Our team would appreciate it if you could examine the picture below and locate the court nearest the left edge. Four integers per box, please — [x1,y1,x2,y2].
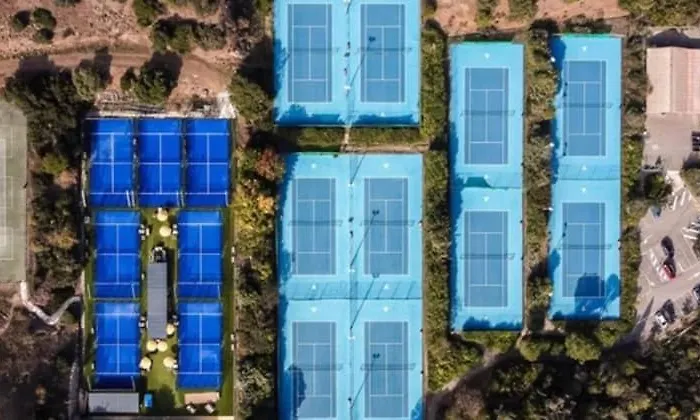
[0,103,27,283]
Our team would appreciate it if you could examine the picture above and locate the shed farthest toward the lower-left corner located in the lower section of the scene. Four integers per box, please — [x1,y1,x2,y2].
[88,390,143,412]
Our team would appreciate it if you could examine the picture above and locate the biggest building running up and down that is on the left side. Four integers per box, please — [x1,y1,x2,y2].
[147,263,170,339]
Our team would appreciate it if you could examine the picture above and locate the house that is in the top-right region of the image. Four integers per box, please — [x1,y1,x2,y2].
[643,46,700,116]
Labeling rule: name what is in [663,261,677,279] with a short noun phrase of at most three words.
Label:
car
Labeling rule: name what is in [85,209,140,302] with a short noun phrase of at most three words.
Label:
sports court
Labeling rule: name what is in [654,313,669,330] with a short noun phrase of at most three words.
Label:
car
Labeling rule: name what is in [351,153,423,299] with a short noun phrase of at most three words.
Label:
tennis court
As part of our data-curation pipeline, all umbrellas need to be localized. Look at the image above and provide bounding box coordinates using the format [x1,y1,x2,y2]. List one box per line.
[158,340,169,351]
[160,225,172,237]
[147,340,158,352]
[157,210,168,221]
[141,356,152,367]
[167,323,176,334]
[164,356,176,367]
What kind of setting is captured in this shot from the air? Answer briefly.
sports ground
